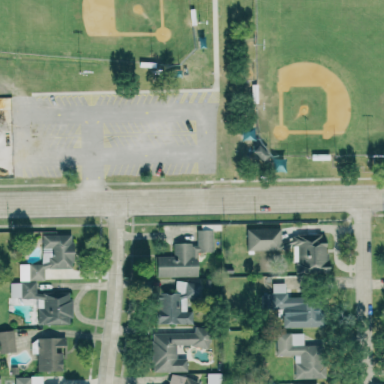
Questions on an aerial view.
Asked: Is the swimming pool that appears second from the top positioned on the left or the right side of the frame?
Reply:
left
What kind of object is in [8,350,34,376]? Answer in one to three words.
swimming pool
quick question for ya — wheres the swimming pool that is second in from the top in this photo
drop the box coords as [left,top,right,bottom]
[9,298,38,325]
